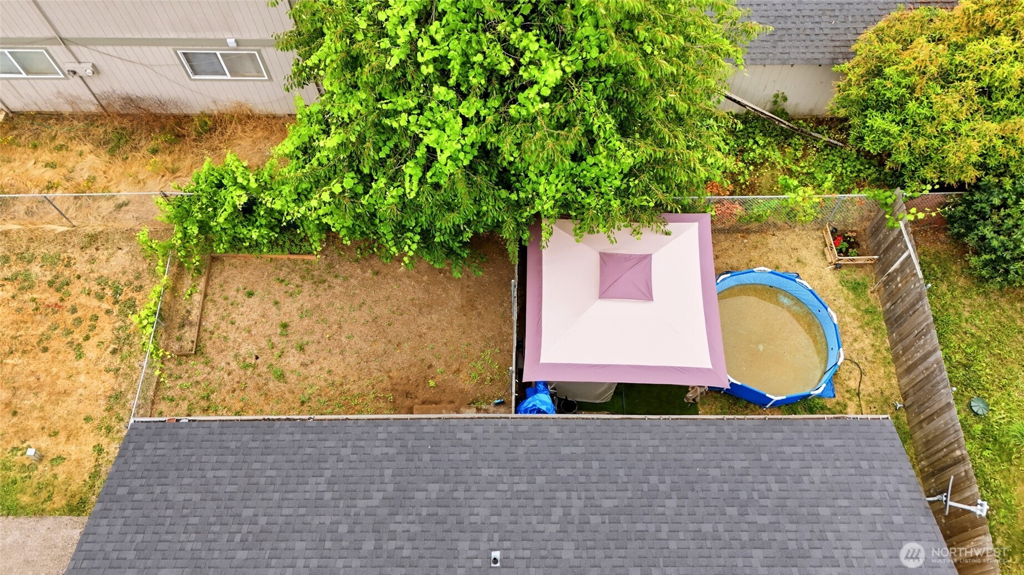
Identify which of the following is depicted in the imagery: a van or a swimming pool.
swimming pool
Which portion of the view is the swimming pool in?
right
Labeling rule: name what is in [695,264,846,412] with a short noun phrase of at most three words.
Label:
swimming pool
